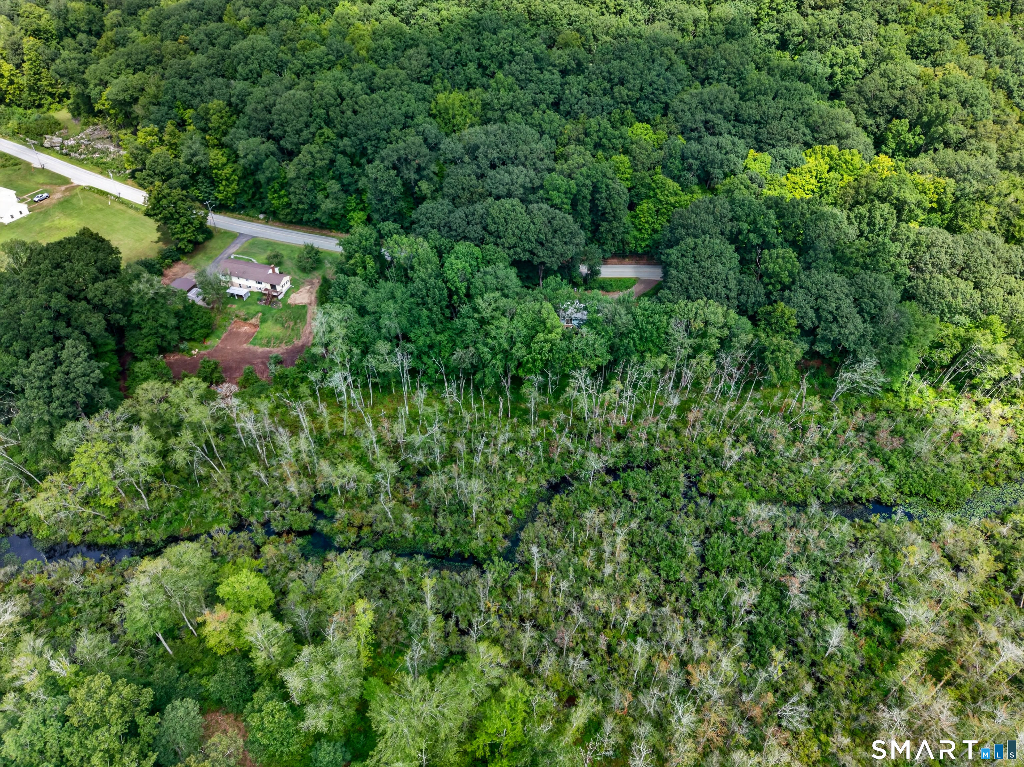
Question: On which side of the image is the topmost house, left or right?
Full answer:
The topmost house is on the left side of the image.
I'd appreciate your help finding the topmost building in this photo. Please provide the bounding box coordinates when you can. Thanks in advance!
[0,186,30,228]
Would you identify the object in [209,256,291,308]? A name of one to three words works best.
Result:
house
